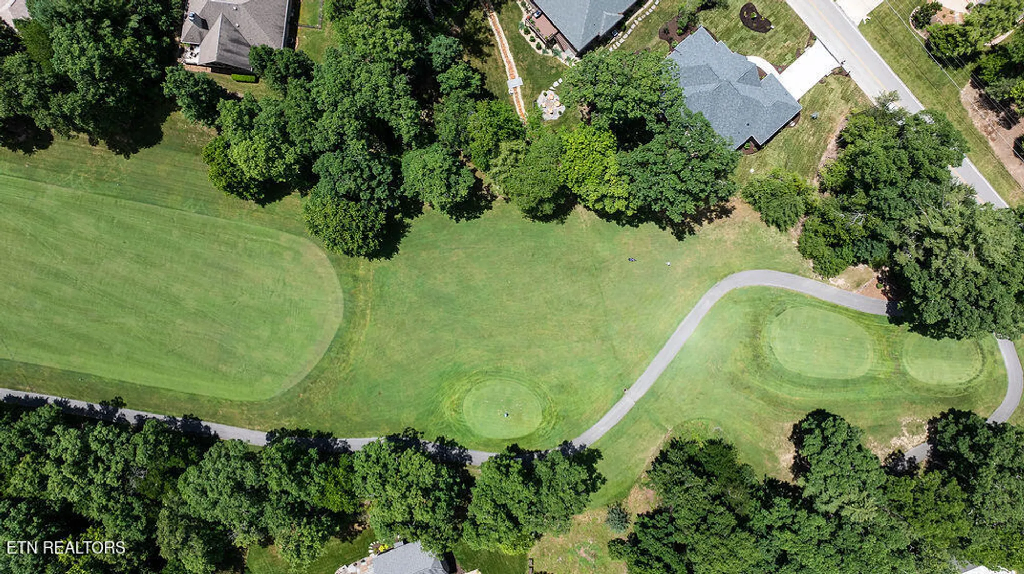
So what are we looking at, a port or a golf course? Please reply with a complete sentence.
What you see here is a golf course.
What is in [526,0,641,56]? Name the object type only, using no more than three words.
house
